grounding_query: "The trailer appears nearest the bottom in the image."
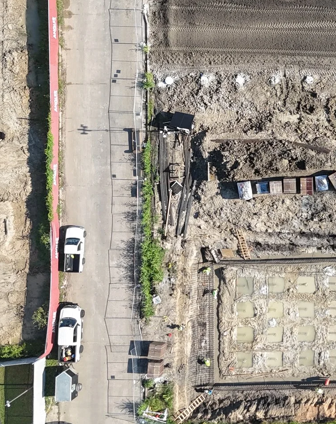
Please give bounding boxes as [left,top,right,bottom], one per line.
[53,362,83,409]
